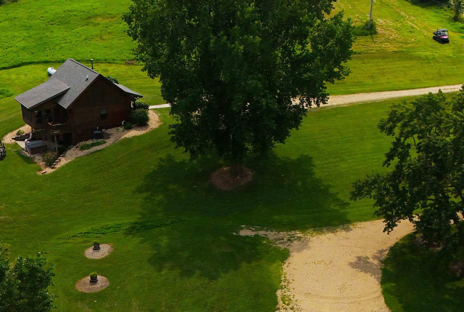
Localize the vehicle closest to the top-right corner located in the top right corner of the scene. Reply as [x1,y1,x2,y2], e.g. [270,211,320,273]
[432,25,449,44]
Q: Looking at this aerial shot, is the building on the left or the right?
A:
left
